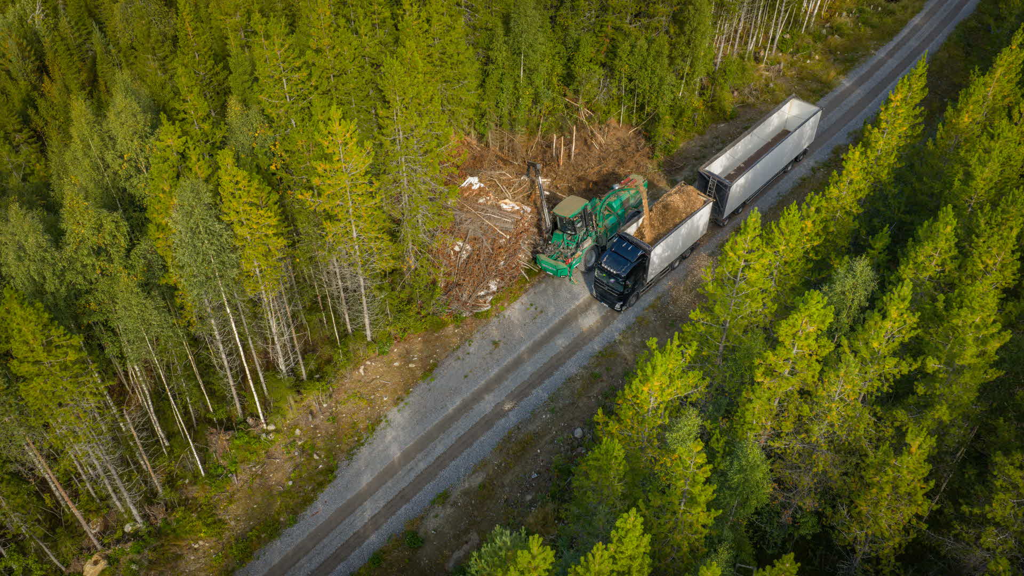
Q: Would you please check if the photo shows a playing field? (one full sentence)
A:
No, the scene contains no playing field.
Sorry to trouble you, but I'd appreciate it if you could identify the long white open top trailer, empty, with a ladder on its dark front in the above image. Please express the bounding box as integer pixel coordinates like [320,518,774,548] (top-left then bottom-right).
[695,96,823,226]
